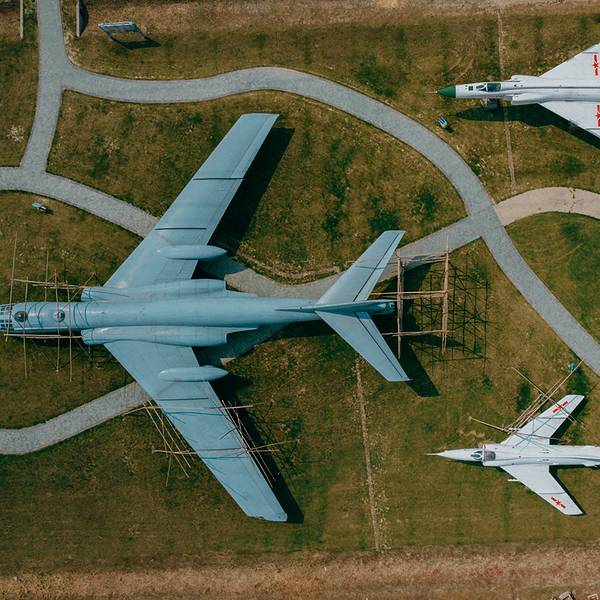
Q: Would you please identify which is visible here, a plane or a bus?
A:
plane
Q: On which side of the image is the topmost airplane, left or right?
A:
right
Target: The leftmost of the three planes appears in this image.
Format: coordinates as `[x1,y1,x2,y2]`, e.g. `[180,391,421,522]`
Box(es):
[0,113,411,521]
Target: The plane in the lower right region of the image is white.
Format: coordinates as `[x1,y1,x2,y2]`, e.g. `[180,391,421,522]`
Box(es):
[427,395,600,515]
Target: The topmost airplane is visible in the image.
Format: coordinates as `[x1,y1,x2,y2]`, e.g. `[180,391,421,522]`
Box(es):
[431,45,600,138]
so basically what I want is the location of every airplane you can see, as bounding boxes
[427,395,600,515]
[431,45,600,138]
[0,113,411,521]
